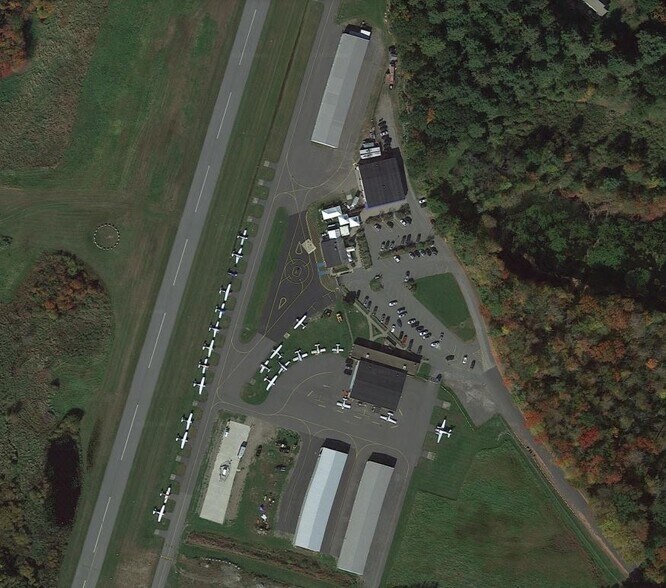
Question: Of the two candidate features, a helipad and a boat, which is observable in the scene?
helipad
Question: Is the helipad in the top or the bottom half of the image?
bottom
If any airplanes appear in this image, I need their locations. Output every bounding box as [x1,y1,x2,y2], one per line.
[435,420,454,443]
[159,488,171,503]
[181,413,193,430]
[215,303,225,318]
[203,340,215,356]
[194,377,206,394]
[293,350,308,361]
[260,360,272,373]
[220,284,232,301]
[153,505,165,522]
[237,230,248,245]
[176,431,188,449]
[294,315,307,329]
[198,358,209,373]
[209,322,220,337]
[332,344,343,354]
[337,398,351,409]
[271,345,284,358]
[278,360,290,373]
[264,375,277,390]
[232,248,243,263]
[380,412,397,423]
[226,268,236,280]
[311,344,326,355]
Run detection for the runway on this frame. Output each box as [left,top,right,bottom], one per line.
[71,0,271,588]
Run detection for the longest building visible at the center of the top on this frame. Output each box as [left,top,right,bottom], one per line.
[311,30,369,148]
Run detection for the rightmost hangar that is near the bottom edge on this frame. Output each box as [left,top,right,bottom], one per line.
[337,461,394,575]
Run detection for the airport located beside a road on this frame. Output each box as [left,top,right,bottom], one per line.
[71,0,450,588]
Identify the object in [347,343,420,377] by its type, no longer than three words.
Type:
building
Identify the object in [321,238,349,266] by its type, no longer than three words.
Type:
building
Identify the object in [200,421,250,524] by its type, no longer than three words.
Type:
helipad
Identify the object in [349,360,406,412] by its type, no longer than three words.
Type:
hangar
